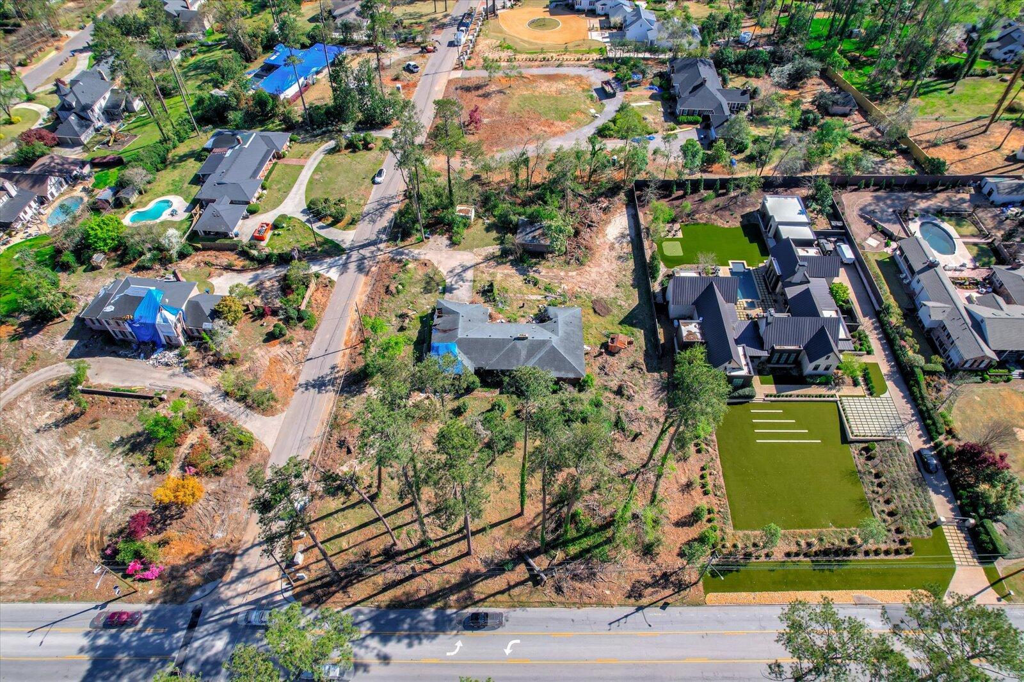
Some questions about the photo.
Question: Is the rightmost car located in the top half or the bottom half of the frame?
bottom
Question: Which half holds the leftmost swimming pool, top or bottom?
top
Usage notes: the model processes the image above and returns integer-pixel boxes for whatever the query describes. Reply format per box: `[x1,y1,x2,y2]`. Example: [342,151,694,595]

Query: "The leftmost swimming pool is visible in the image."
[46,194,84,228]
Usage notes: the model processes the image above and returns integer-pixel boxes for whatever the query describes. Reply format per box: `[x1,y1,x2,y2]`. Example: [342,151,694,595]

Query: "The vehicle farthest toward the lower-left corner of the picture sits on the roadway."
[99,610,140,628]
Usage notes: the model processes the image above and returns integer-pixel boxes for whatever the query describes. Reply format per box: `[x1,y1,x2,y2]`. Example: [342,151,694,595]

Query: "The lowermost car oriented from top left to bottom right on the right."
[914,445,945,474]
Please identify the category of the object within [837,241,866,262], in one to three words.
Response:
truck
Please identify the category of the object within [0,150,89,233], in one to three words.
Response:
house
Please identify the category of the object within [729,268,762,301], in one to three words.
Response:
swimming pool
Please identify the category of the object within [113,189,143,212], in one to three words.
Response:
shed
